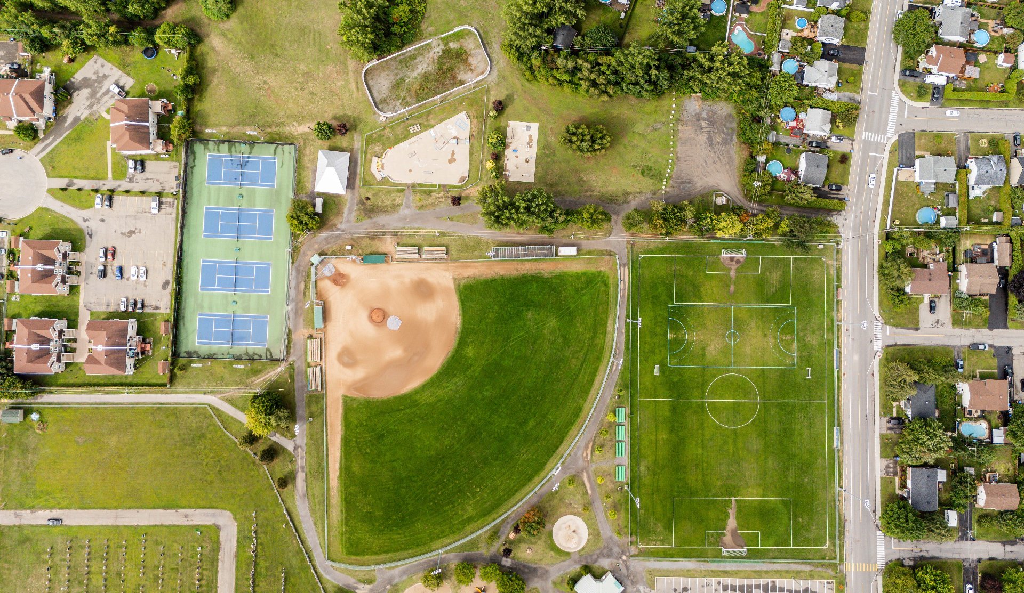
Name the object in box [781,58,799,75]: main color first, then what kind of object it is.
blue swimming pool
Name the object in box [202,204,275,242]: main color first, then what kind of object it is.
blue tennis court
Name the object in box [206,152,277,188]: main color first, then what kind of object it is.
blue tennis court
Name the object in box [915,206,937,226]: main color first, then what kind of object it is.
blue swimming pool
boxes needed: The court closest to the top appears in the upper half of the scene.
[361,25,492,117]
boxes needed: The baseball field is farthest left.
[319,256,615,556]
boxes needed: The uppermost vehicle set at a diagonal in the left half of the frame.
[110,84,127,97]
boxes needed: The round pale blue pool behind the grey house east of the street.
[972,30,989,47]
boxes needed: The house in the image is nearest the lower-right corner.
[979,483,1024,511]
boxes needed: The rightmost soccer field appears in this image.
[634,250,832,552]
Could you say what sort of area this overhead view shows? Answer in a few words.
sports ground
